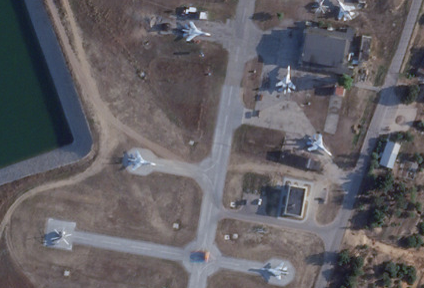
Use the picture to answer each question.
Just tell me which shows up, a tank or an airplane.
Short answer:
airplane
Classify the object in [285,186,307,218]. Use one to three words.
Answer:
building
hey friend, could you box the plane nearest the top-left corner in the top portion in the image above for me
[180,20,211,41]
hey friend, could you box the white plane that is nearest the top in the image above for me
[336,0,356,24]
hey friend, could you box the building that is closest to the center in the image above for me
[279,152,309,171]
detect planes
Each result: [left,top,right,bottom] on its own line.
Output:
[127,152,156,171]
[279,66,298,95]
[336,0,356,24]
[306,132,331,155]
[259,262,292,282]
[180,20,211,41]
